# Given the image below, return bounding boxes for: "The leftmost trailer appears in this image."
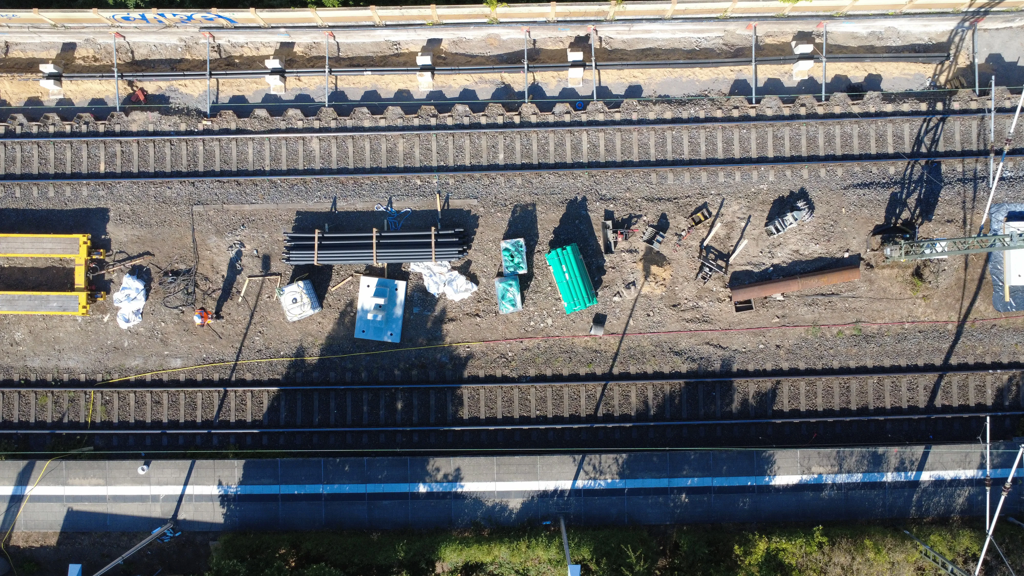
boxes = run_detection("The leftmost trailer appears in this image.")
[0,233,109,317]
